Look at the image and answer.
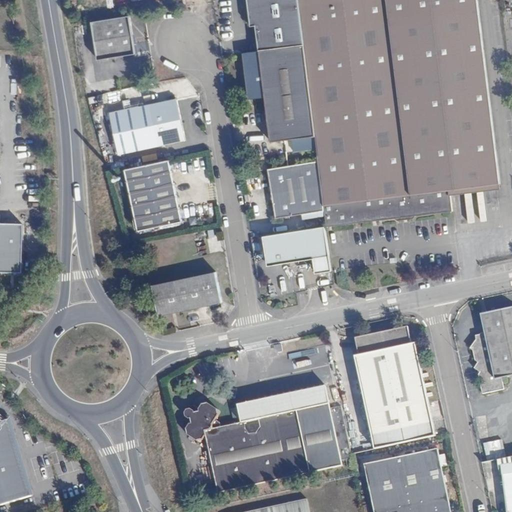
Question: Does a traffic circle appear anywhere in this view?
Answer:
Yes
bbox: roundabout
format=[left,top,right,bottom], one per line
[17,250,166,474]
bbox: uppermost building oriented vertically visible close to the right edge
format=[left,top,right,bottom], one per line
[384,0,500,196]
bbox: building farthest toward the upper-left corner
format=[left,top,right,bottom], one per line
[90,16,135,60]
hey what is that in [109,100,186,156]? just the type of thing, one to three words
building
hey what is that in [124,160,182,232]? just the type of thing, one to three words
building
